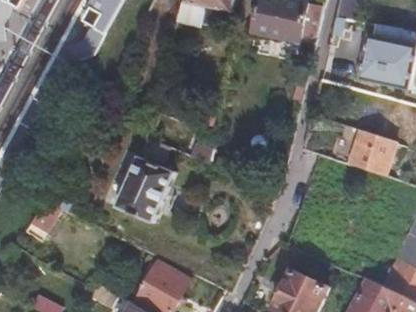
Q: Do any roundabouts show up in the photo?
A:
No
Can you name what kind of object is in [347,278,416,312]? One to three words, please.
house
